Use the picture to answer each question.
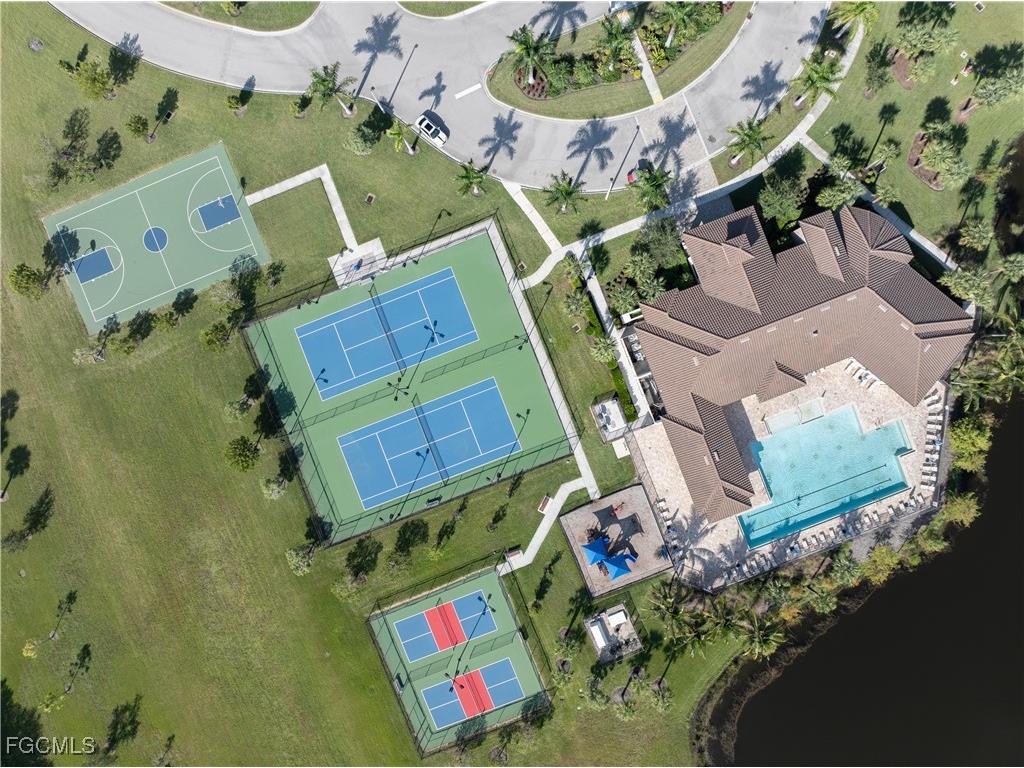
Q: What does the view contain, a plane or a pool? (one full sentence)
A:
The one in the frame is a pool.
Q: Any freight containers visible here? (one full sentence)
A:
No, the frame has no freight container in it.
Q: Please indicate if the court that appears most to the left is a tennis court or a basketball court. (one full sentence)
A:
Looking closely, the court that appears most to the left is a basketball court.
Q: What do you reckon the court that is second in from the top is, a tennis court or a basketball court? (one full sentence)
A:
The court that is second in from the top is a tennis court.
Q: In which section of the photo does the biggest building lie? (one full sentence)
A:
The biggest building is located in the right region of the scene.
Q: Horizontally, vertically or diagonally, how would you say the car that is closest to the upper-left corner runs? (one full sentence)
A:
The car that is closest to the upper-left corner has been laid out diagonally relative to the frame.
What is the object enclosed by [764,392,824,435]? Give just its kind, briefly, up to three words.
swimming pool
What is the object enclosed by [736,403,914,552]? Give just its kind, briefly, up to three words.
swimming pool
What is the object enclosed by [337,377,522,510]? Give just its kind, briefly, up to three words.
tennis court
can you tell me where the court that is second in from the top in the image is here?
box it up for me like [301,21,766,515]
[294,267,479,401]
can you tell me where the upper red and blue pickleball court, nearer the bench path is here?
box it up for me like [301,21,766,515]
[394,590,497,663]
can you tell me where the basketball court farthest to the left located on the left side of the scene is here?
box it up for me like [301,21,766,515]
[57,157,257,322]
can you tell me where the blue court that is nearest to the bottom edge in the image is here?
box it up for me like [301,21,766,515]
[421,657,525,730]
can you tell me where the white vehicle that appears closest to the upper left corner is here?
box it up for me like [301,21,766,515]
[416,115,447,147]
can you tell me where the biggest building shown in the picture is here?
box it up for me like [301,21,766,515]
[635,205,975,526]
